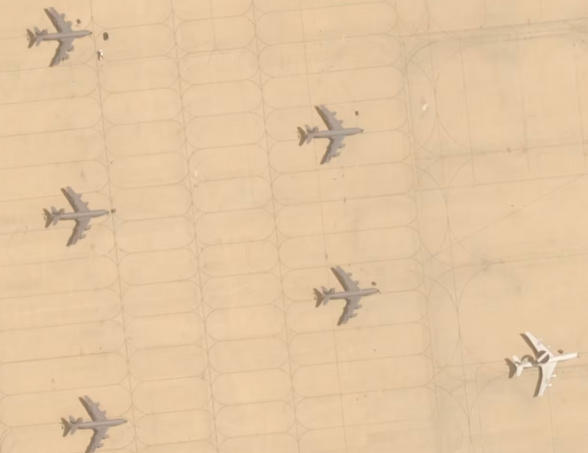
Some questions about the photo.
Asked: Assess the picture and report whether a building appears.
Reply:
No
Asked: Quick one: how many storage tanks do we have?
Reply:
0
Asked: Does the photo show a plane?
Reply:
Yes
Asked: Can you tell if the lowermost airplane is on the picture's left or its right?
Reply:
left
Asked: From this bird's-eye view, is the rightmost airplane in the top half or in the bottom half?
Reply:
bottom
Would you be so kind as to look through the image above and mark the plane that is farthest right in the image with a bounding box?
[513,331,579,396]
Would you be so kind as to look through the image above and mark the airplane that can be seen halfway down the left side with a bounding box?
[50,187,109,245]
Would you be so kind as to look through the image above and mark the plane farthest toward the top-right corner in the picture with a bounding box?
[305,104,363,164]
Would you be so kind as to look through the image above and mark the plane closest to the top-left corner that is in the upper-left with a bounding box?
[34,7,92,66]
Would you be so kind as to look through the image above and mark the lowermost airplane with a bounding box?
[68,395,127,453]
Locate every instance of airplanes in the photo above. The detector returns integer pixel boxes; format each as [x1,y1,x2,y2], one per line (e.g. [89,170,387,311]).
[305,104,363,164]
[321,265,379,324]
[513,331,579,396]
[50,187,109,245]
[34,7,92,66]
[68,395,127,453]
